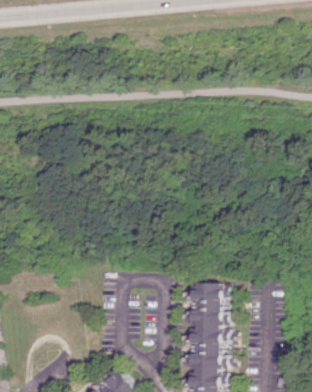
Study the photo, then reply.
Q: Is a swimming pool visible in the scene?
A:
No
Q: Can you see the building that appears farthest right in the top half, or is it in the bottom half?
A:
bottom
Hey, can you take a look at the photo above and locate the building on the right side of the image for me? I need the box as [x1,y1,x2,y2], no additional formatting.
[180,285,232,392]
